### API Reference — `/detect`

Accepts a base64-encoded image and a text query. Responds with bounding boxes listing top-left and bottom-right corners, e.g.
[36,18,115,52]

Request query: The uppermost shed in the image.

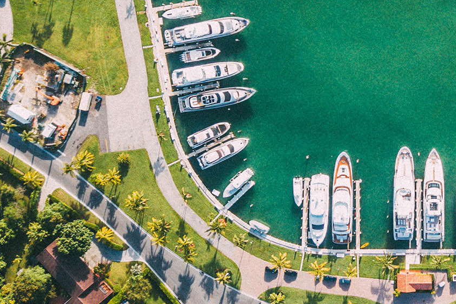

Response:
[7,100,38,125]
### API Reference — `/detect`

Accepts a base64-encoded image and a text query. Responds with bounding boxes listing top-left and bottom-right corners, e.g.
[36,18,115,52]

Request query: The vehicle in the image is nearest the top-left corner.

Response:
[37,88,62,106]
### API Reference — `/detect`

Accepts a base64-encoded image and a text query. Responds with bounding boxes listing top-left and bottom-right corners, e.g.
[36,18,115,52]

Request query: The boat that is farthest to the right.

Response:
[420,149,444,241]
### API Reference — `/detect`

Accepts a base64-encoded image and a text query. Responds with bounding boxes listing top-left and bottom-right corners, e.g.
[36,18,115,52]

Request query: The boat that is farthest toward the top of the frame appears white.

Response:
[163,5,201,19]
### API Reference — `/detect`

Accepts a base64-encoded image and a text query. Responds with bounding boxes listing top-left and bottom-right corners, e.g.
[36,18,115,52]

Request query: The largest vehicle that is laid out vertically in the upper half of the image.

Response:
[80,90,92,113]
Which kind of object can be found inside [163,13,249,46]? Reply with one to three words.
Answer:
boat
